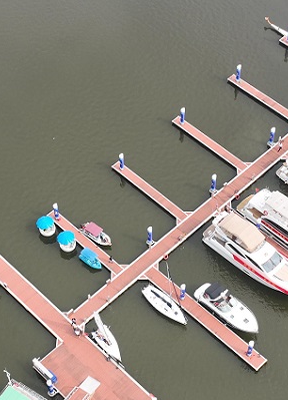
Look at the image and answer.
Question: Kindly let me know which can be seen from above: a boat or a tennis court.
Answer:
boat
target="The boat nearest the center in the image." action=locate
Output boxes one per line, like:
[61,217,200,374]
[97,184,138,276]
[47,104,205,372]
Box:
[80,220,109,247]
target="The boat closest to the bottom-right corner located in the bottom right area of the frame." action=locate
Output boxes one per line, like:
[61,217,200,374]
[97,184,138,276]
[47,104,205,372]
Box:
[195,282,259,334]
